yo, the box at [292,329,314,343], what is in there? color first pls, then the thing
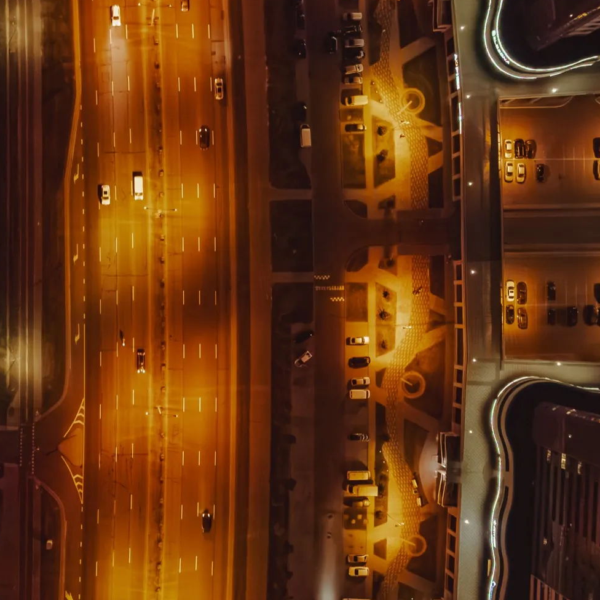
black car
